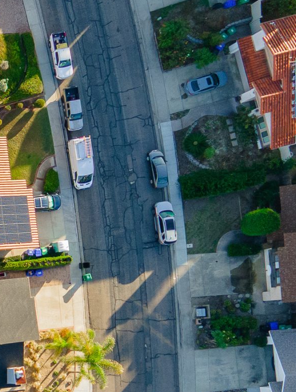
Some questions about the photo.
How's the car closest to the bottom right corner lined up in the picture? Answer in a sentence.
The car closest to the bottom right corner is oriented from top to bottom.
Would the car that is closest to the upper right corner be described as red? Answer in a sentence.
No, the color of the car that is closest to the upper right corner is blue.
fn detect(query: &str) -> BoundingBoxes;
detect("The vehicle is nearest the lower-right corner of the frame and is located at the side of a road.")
[153,202,177,246]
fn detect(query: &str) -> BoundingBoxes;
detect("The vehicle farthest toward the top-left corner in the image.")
[50,31,74,80]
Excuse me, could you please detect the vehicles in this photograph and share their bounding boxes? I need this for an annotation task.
[50,31,74,80]
[61,85,85,132]
[145,149,167,190]
[70,135,97,190]
[183,71,228,96]
[33,194,64,213]
[153,202,177,246]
